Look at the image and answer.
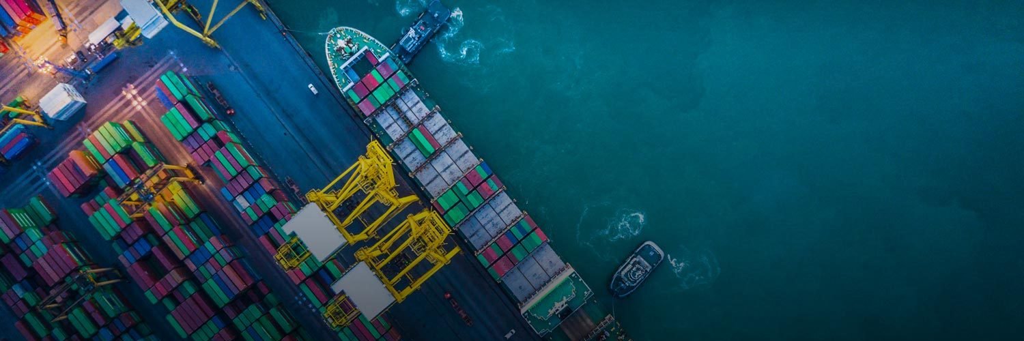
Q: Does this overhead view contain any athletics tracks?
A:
No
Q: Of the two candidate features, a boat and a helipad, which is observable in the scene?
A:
boat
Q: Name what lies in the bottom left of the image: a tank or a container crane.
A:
container crane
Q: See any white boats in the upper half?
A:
No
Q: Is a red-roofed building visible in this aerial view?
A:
No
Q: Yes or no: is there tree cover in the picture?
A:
No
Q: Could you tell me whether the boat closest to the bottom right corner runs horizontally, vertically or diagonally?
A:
diagonally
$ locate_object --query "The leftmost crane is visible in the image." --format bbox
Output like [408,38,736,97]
[0,106,52,141]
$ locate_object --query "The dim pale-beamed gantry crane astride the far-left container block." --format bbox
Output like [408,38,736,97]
[31,262,125,329]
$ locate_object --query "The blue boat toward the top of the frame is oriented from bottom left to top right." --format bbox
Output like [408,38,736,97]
[392,0,451,60]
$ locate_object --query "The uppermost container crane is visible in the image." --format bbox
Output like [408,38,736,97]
[116,0,264,49]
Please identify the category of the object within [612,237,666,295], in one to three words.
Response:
boat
